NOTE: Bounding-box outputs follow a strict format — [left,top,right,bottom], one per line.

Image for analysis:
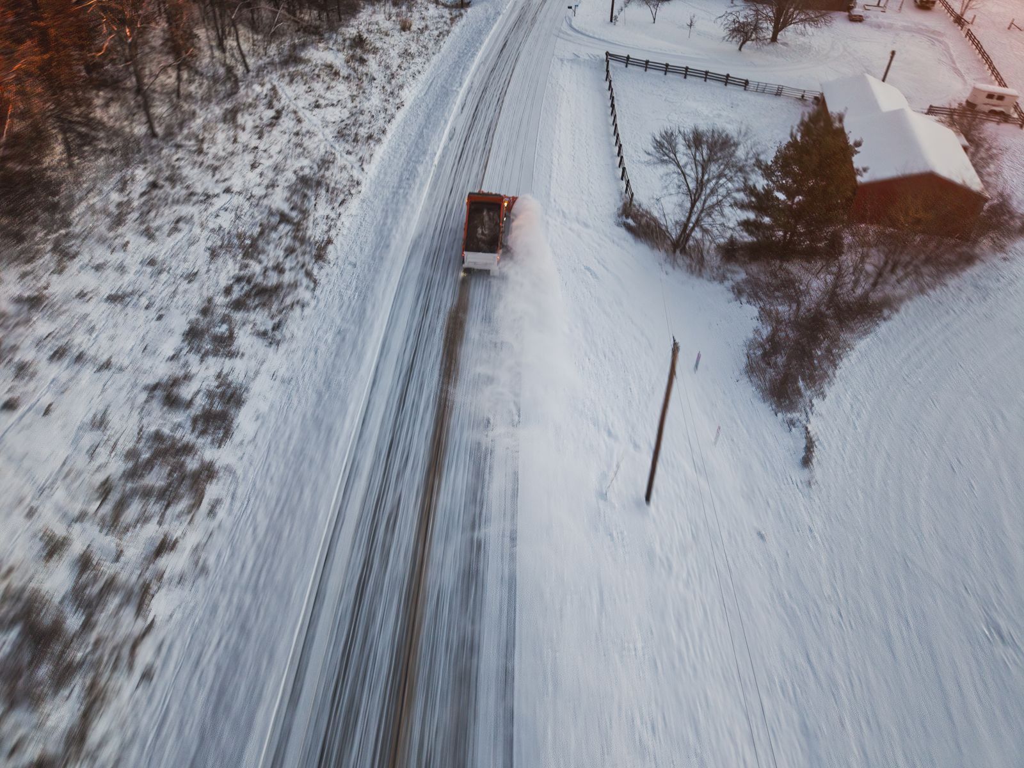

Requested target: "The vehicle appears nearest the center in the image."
[460,190,527,286]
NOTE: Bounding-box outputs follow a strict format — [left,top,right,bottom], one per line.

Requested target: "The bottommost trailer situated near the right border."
[959,77,1024,112]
